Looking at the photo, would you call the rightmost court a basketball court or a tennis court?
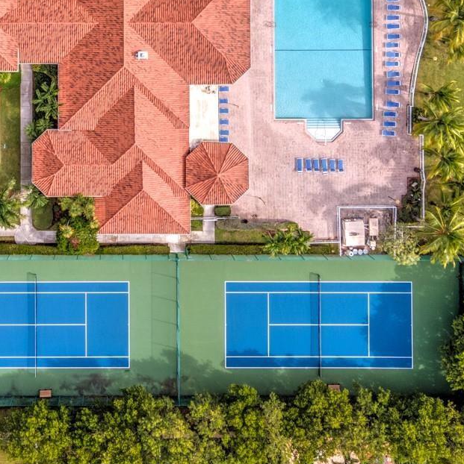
tennis court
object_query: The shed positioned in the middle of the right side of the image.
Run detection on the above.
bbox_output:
[344,219,370,251]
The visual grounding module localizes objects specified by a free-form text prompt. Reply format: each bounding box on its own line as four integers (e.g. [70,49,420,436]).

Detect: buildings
[344,219,370,251]
[0,0,251,235]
